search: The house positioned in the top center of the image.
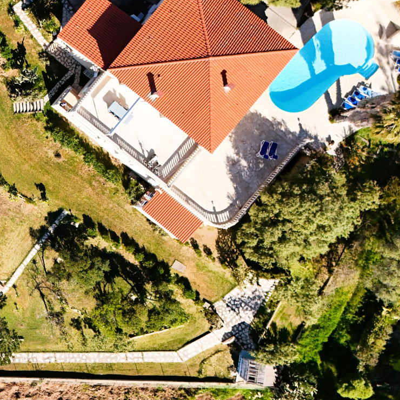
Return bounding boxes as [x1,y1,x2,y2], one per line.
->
[52,0,301,152]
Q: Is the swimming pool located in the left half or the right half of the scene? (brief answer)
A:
right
